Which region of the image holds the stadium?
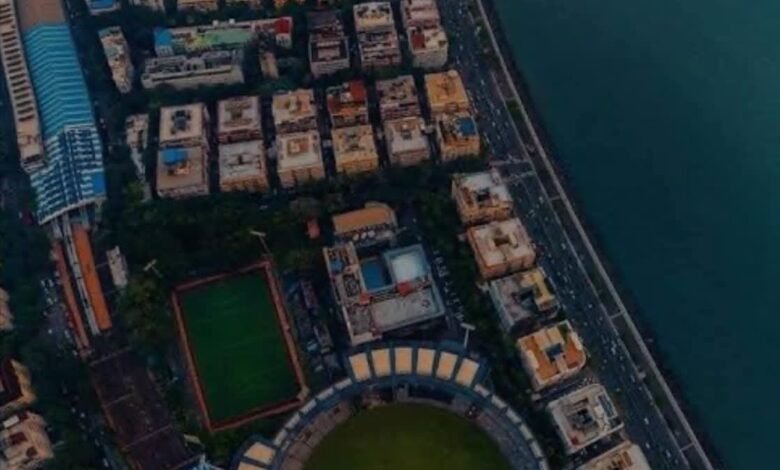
bottom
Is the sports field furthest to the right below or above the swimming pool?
below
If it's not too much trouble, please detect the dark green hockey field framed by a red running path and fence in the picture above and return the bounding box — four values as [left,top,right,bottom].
[173,261,307,432]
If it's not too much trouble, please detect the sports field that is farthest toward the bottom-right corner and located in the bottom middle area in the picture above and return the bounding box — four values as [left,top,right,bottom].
[303,401,510,470]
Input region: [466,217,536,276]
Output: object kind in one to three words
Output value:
building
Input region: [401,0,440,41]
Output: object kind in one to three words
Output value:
building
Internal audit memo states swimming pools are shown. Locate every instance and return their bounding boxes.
[363,262,389,289]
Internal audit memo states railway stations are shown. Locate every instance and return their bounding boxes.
[19,0,110,226]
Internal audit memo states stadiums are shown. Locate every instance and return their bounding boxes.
[233,341,561,470]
